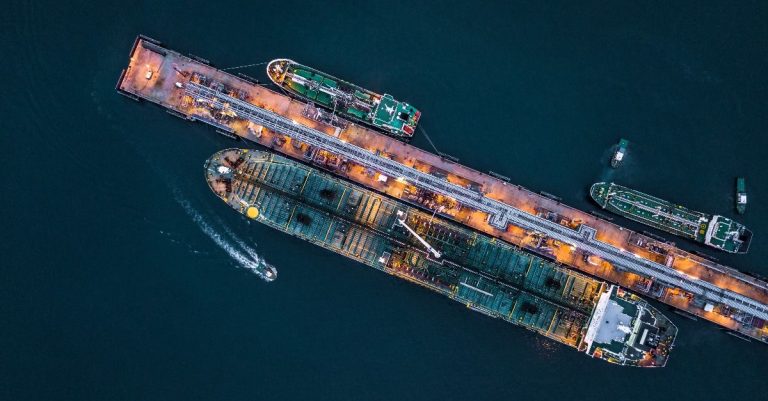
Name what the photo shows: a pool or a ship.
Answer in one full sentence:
Visible in the photo is a ship.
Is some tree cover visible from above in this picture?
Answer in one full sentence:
No, the picture contains no tree cover.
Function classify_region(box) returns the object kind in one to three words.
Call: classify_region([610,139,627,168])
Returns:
boat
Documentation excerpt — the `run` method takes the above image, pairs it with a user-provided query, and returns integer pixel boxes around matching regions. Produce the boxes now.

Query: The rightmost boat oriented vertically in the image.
[733,177,748,215]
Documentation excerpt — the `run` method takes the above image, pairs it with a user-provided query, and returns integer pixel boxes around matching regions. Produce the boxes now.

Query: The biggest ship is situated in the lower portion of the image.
[203,147,680,367]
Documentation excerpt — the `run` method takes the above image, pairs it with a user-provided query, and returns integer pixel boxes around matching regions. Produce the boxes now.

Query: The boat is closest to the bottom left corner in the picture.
[256,262,278,279]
